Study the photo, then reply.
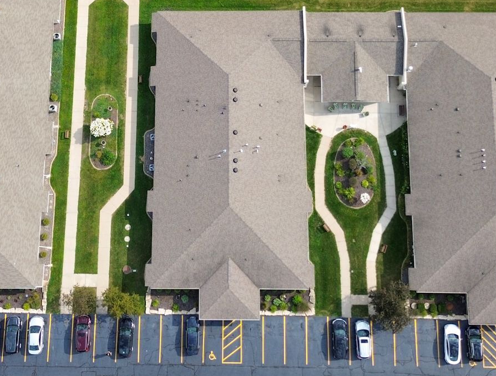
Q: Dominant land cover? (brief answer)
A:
buildings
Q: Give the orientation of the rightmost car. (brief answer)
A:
vertically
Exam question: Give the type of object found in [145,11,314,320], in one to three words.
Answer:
building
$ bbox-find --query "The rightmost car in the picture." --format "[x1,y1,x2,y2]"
[464,324,485,362]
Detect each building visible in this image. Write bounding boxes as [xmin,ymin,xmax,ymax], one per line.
[145,11,314,320]
[0,0,60,288]
[403,12,496,325]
